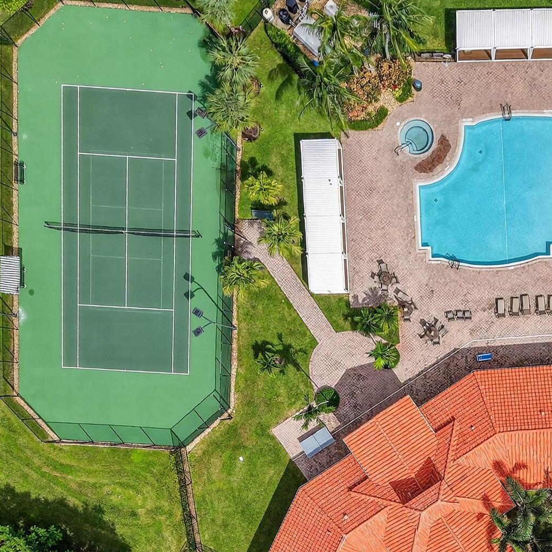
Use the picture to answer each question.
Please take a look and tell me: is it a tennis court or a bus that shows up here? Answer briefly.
tennis court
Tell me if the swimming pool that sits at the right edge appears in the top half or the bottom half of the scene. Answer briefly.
top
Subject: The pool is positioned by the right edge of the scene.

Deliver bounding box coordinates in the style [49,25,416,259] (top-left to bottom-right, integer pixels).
[414,105,552,271]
